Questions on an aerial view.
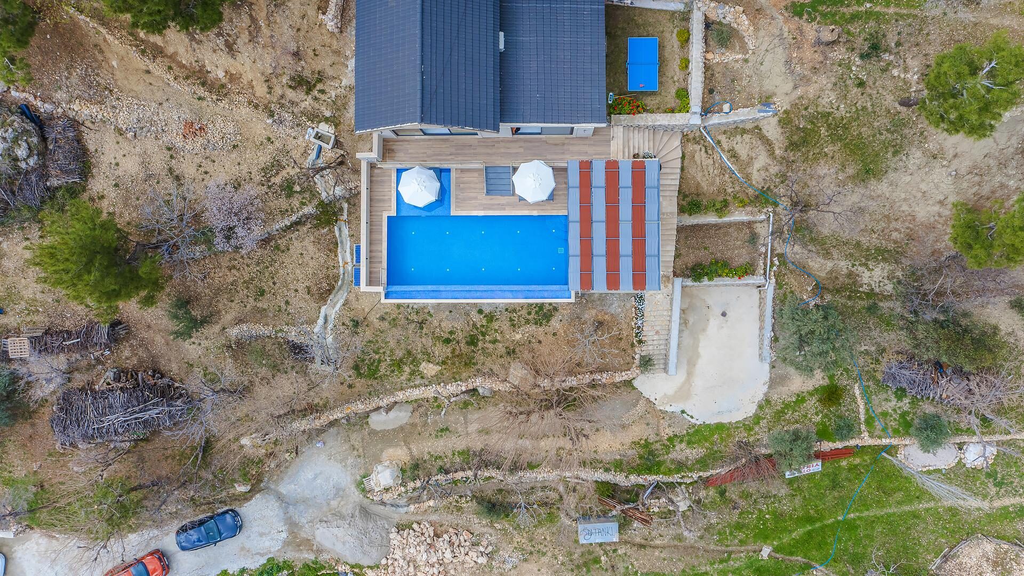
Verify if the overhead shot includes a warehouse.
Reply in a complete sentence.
No, the scene contains no warehouse.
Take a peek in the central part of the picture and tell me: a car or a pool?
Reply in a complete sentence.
The feature located in the central part of the picture is a pool.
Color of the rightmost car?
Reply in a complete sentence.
The rightmost car is blue.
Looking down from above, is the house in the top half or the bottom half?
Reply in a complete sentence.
It is in the top half that the house appears.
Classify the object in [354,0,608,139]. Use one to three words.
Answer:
house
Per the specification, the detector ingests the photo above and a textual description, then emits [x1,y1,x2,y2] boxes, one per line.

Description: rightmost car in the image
[175,505,249,550]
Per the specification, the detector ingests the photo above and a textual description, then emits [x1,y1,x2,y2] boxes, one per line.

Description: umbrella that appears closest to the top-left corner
[400,167,442,210]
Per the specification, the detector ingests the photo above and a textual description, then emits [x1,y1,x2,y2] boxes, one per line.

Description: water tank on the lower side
[577,516,619,544]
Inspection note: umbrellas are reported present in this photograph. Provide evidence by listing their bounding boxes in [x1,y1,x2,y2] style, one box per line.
[400,167,442,210]
[512,161,555,205]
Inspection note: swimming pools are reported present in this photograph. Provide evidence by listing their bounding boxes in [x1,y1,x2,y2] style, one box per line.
[381,169,575,303]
